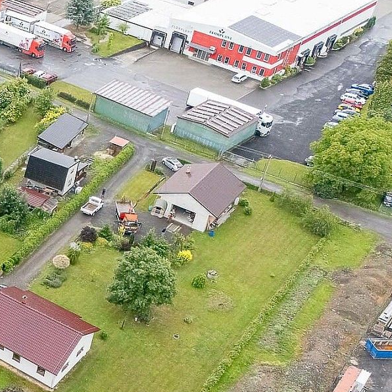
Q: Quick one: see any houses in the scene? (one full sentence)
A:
Yes, you can see a house in this photo.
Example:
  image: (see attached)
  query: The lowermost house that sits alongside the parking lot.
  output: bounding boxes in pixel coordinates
[154,163,247,229]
